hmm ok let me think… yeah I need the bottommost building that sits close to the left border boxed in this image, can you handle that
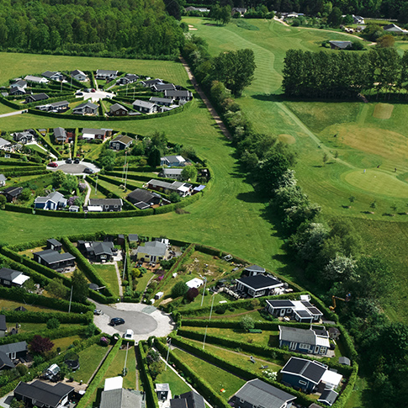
[13,382,74,408]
